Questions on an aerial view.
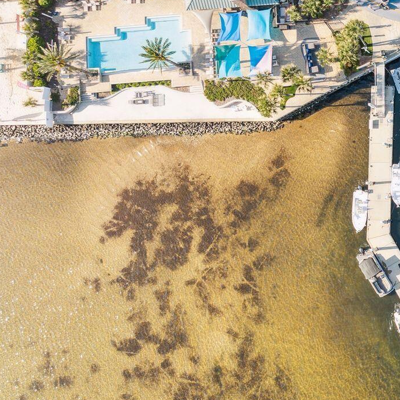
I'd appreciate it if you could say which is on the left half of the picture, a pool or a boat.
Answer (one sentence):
The feature located on the left half of the picture is a pool.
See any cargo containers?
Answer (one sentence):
No, the photo shows no cargo container.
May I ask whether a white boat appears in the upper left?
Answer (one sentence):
No, looking in the upper left, there is no white boat.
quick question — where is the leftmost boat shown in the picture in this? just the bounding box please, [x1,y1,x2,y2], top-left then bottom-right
[351,183,368,234]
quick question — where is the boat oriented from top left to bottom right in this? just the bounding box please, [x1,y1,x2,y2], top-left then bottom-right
[358,249,393,295]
